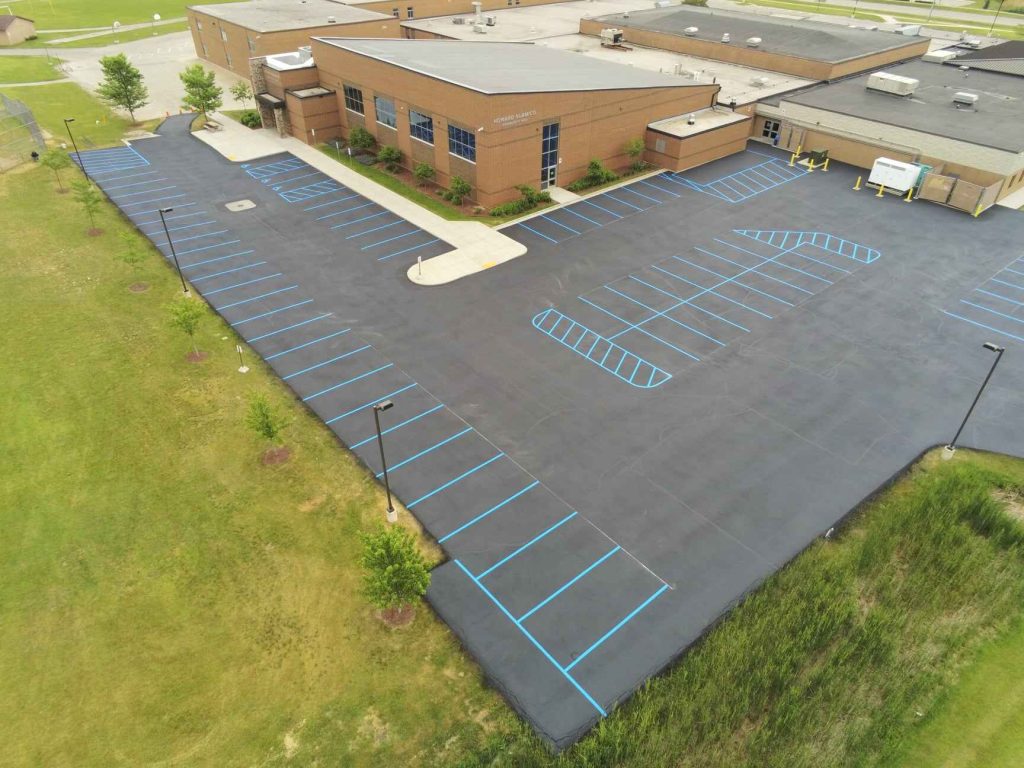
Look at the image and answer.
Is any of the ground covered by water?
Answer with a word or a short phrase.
No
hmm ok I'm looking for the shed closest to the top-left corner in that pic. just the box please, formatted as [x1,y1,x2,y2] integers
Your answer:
[0,12,36,45]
